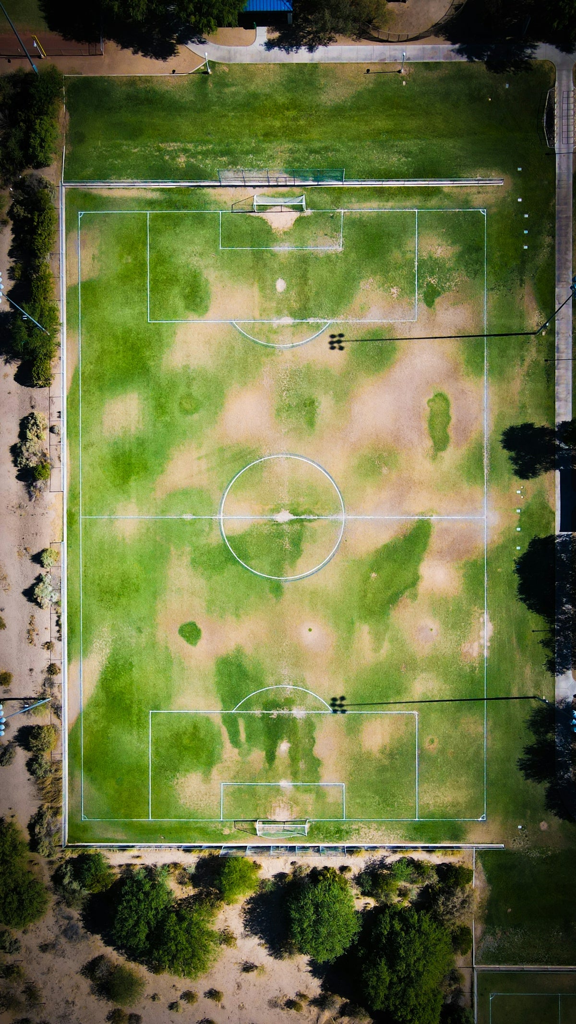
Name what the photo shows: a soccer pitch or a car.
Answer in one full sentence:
It is a soccer pitch that can be seen here.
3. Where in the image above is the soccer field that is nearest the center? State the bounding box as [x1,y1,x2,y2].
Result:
[65,185,502,844]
